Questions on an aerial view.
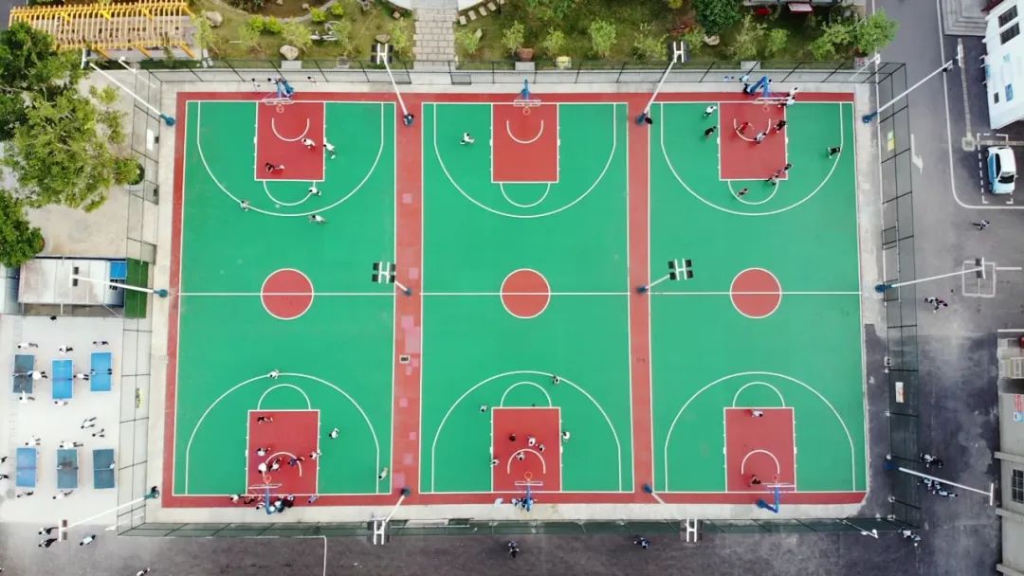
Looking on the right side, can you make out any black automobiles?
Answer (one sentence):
No, looking on the right side, there is no black automobile.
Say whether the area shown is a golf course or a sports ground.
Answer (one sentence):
This image shows a sports ground.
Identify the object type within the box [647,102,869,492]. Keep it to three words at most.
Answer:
basketball court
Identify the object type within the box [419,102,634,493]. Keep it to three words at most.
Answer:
basketball court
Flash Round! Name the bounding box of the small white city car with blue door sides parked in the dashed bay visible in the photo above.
[986,145,1022,193]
